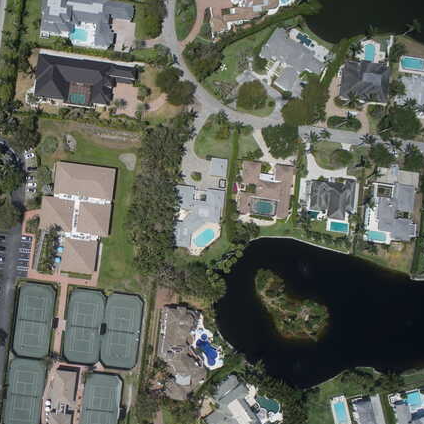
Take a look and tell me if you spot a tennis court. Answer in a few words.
Yes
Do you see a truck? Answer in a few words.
No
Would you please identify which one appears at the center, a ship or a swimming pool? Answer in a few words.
swimming pool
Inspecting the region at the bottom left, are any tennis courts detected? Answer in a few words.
Yes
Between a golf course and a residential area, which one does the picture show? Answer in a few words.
residential area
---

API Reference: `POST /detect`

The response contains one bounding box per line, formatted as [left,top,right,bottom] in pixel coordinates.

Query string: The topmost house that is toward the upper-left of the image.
[39,0,135,50]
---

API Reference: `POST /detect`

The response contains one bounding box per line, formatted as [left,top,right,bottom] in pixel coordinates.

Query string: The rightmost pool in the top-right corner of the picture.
[400,54,424,76]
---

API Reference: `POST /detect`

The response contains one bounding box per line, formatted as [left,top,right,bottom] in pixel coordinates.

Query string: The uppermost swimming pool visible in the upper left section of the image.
[67,27,94,47]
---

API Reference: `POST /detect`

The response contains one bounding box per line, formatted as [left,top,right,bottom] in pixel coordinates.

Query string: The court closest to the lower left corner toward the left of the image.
[2,358,47,424]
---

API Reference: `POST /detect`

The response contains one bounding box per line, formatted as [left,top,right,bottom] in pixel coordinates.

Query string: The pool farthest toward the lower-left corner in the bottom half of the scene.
[190,314,224,371]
